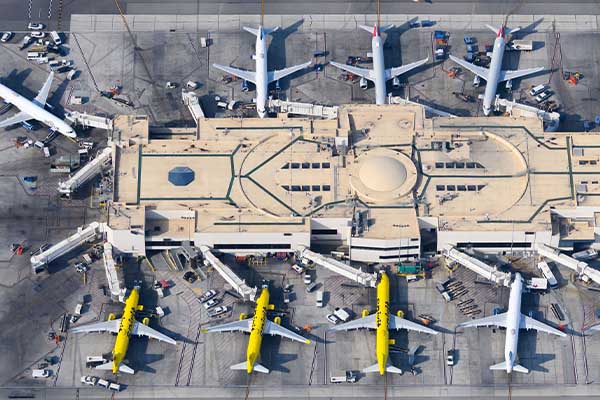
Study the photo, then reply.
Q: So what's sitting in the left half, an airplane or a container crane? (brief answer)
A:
airplane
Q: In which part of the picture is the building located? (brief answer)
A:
center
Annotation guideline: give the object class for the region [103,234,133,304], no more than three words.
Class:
jet bridge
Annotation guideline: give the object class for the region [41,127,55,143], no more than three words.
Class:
work vehicle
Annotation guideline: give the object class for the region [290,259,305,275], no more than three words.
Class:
vehicle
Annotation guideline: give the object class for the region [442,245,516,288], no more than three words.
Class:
jet bridge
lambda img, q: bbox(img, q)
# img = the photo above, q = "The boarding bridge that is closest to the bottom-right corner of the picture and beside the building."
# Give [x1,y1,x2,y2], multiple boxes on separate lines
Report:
[536,244,600,283]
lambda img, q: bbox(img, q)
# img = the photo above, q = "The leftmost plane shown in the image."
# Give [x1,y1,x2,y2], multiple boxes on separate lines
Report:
[0,71,76,137]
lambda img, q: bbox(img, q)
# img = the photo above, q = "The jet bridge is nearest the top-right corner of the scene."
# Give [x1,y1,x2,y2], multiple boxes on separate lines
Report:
[490,97,558,132]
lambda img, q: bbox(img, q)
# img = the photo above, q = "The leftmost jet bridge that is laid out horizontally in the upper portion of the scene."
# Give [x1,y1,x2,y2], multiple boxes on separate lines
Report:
[60,110,113,138]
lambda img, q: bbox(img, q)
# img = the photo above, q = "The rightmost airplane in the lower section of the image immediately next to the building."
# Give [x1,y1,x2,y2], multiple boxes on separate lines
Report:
[458,273,568,374]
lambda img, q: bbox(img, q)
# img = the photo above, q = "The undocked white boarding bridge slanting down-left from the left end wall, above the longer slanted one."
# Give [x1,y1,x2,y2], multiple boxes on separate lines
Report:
[50,148,112,199]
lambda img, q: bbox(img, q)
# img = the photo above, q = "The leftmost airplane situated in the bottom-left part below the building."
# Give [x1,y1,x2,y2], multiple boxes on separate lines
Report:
[69,288,176,375]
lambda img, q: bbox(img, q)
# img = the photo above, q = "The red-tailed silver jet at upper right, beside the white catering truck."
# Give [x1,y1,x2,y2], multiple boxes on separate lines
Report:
[447,16,547,116]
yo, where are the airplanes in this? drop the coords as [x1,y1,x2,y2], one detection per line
[203,286,309,374]
[327,17,430,104]
[447,16,547,116]
[458,273,568,374]
[326,272,434,375]
[212,16,312,118]
[69,288,176,375]
[0,71,76,137]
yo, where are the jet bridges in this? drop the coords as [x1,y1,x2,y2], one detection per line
[103,234,133,304]
[202,245,260,303]
[29,224,108,275]
[183,86,204,128]
[490,97,558,132]
[50,148,112,199]
[265,99,338,118]
[442,245,516,288]
[536,244,600,283]
[379,93,461,118]
[60,110,113,138]
[299,245,384,291]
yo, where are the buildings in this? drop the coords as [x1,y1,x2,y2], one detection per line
[107,104,600,262]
